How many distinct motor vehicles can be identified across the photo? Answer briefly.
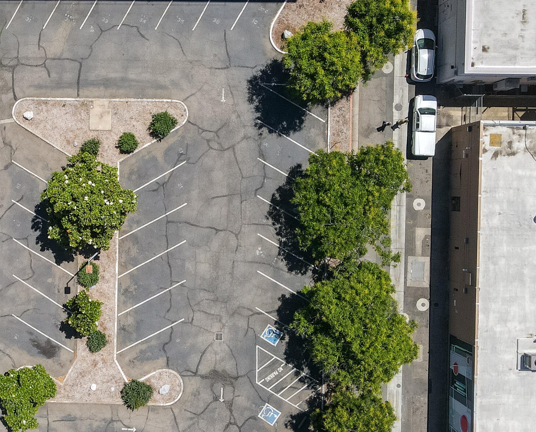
2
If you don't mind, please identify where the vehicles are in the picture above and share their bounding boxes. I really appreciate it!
[412,29,440,83]
[412,94,442,159]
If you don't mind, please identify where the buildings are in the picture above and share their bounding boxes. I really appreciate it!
[446,121,536,432]
[435,0,536,89]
